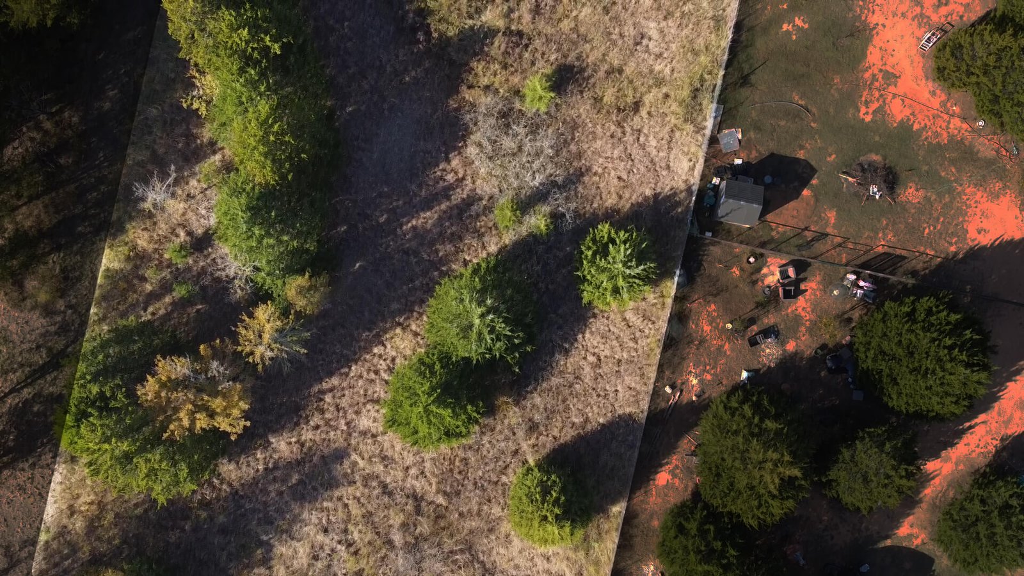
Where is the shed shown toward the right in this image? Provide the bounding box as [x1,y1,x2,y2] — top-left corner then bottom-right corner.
[707,181,762,228]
